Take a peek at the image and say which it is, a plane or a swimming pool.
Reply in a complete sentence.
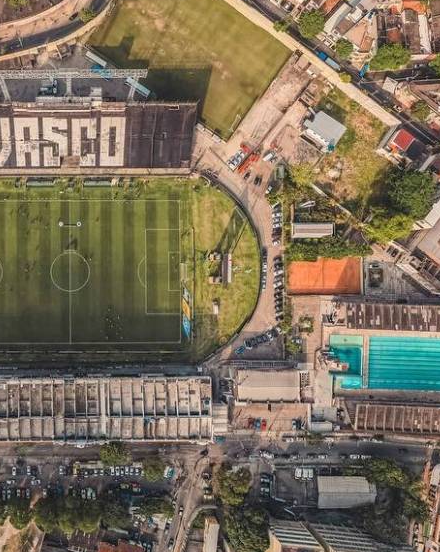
I can see a swimming pool in this picture.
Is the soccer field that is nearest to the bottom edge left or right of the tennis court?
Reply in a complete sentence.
Compared with the tennis court, the soccer field that is nearest to the bottom edge is located further to the left.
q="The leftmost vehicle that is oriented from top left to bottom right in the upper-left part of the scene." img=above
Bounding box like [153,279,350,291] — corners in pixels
[85,47,108,67]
